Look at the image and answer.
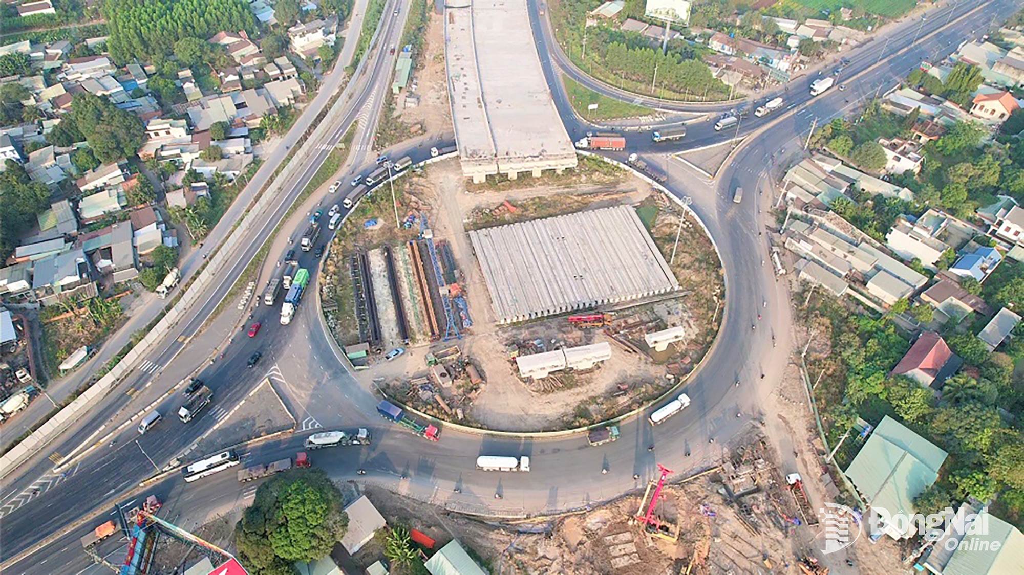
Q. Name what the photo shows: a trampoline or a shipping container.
shipping container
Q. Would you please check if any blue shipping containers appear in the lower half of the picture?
No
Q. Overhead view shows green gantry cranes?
No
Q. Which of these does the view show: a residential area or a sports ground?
residential area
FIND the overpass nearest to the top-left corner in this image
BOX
[443,0,577,182]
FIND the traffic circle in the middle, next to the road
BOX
[316,147,727,437]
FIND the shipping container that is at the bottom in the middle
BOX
[407,523,438,551]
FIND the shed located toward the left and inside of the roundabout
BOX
[344,342,371,360]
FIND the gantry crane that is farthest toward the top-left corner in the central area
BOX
[419,231,461,340]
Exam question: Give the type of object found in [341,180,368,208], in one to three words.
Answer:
truck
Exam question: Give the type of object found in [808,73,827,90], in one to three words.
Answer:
vehicle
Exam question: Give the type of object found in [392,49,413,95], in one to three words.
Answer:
shed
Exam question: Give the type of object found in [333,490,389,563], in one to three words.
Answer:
house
